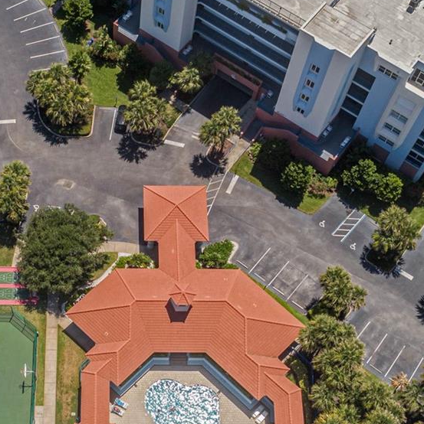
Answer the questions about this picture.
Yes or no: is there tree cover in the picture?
Yes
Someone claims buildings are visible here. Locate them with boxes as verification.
[66,186,303,424]
[98,0,424,181]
